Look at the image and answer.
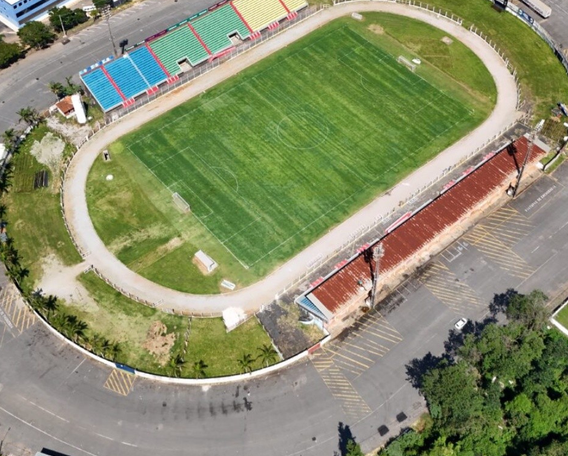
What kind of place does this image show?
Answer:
sports ground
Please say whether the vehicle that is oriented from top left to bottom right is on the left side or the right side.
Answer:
right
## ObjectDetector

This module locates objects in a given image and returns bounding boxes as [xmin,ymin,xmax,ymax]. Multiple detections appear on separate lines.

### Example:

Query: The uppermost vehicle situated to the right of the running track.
[520,0,550,20]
